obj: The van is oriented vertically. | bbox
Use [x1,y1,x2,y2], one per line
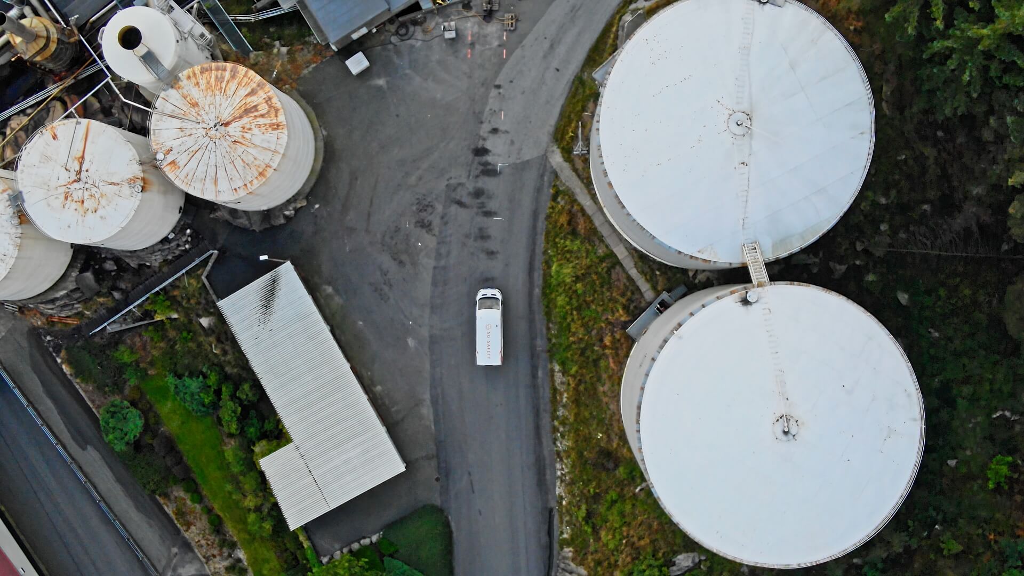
[473,289,505,367]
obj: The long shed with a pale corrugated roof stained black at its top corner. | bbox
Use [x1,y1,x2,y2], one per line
[217,261,409,528]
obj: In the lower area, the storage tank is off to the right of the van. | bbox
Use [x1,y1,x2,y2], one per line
[619,282,932,573]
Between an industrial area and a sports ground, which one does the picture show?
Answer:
industrial area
